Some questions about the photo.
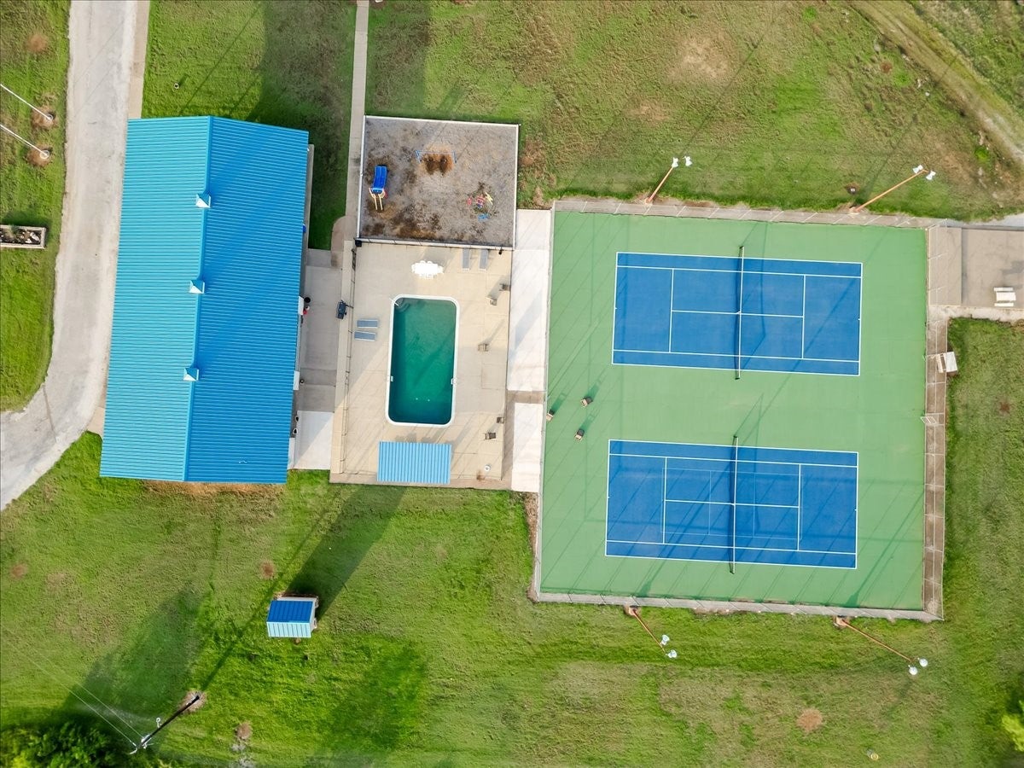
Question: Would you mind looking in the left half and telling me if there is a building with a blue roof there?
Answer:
Yes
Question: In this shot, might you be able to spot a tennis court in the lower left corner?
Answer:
No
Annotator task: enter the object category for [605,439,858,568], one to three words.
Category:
tennis court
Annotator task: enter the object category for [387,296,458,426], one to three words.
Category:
swimming pool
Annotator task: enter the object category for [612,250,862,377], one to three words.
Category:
tennis court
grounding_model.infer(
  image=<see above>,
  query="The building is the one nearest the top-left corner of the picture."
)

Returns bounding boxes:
[98,115,312,485]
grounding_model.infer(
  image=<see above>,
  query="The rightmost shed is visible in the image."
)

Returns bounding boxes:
[268,594,324,638]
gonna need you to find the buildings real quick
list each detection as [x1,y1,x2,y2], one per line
[98,115,312,485]
[268,594,324,638]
